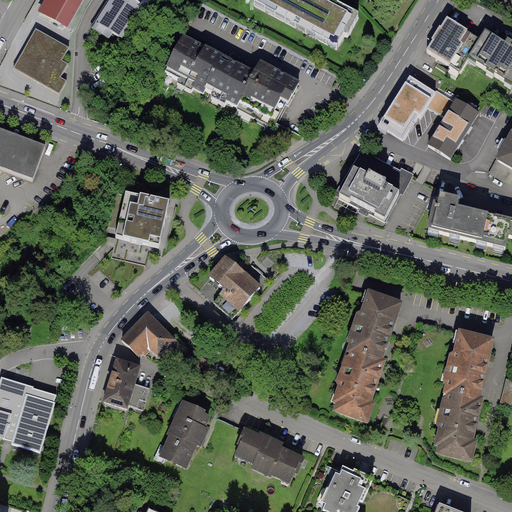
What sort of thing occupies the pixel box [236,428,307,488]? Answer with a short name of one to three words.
house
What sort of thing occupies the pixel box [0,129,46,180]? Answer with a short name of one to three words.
building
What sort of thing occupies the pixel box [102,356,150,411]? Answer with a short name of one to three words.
house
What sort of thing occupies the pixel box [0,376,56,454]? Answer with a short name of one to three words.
building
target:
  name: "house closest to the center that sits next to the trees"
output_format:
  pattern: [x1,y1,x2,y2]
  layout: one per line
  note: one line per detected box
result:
[209,256,257,313]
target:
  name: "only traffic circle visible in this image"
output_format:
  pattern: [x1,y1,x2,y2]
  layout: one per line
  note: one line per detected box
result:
[203,166,304,246]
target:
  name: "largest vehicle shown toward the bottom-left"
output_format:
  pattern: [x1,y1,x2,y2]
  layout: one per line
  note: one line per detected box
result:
[88,356,102,390]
